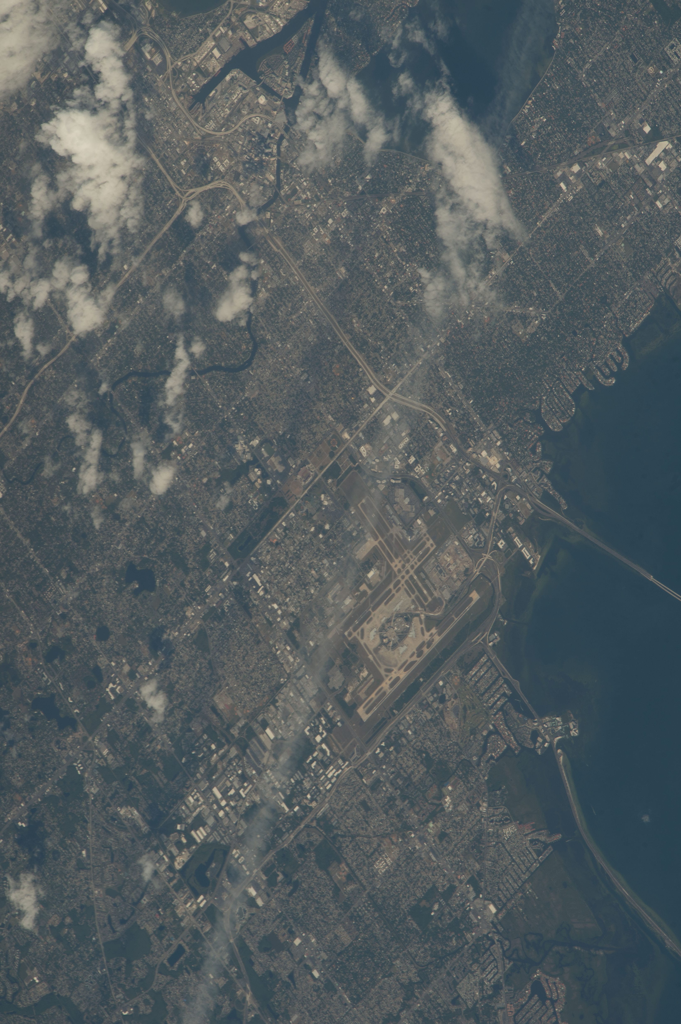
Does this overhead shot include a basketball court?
No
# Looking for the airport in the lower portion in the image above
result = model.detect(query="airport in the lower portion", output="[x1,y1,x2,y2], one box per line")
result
[332,496,485,752]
